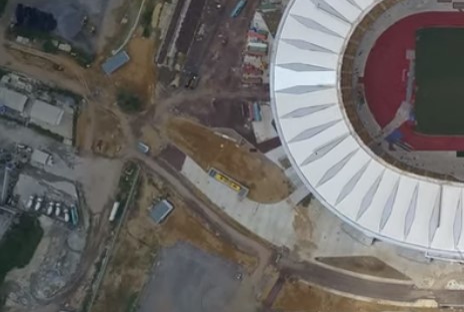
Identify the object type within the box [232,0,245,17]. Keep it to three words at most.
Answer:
vehicle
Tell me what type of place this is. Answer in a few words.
sports ground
